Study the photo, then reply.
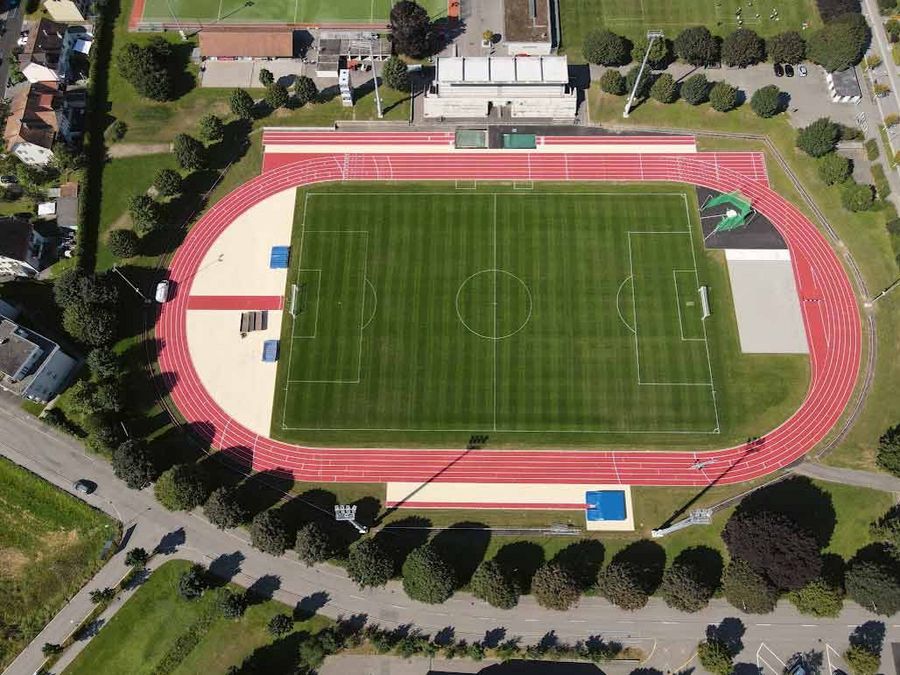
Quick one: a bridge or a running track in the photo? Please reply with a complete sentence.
The one in the frame is a running track.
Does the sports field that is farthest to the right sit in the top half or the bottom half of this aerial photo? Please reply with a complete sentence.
It is in the top half that the sports field that is farthest to the right appears.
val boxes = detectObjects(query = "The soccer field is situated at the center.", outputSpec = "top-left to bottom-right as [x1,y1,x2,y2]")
[186,181,813,452]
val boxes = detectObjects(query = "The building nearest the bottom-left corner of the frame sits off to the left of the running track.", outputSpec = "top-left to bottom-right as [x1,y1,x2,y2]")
[0,314,77,402]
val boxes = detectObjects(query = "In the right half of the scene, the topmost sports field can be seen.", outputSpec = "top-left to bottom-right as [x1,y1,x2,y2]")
[561,0,817,62]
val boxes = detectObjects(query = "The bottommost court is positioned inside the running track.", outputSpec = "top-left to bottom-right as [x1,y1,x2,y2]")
[724,250,807,353]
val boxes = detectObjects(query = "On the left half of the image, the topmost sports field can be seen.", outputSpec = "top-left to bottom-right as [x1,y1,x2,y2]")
[128,0,448,32]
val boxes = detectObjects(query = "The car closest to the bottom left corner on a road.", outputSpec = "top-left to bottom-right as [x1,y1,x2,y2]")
[74,478,93,494]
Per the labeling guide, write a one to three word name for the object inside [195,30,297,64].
building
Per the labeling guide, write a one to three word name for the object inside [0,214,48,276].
house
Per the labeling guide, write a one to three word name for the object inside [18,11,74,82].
house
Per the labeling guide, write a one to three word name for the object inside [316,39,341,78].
building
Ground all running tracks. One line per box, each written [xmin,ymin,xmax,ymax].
[155,151,862,486]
